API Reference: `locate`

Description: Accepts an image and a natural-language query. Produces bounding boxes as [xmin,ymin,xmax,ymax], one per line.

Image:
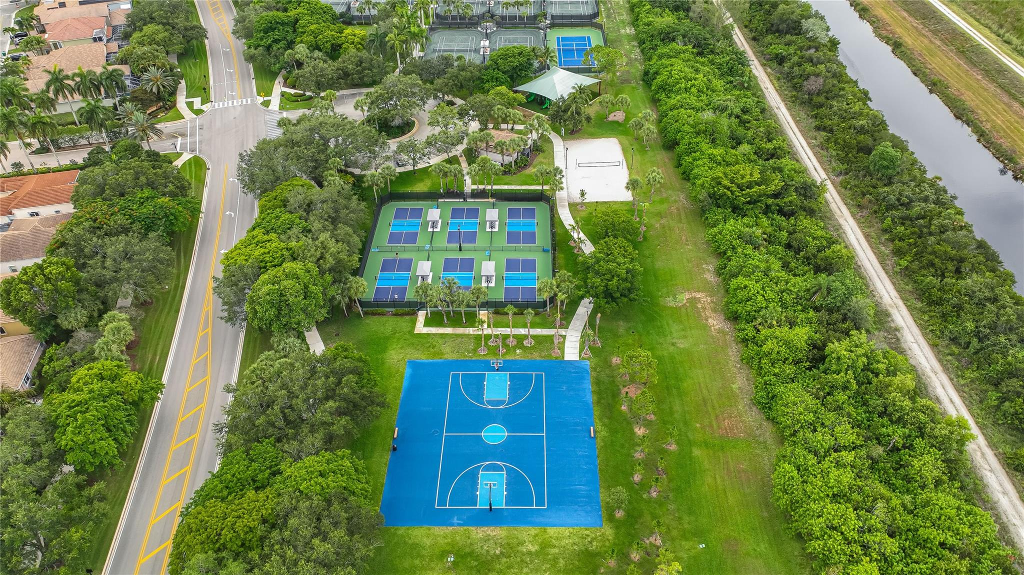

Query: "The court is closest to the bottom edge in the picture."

[381,360,603,527]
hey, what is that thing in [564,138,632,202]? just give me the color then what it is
white sports court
